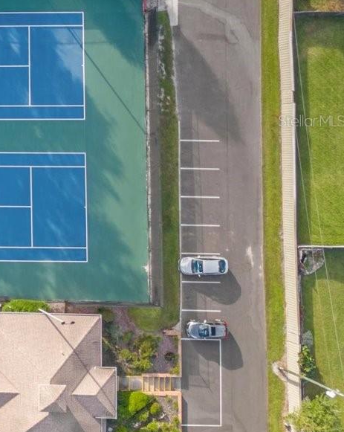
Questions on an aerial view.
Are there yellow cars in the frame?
No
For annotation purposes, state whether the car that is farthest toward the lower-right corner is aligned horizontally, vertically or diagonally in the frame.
horizontally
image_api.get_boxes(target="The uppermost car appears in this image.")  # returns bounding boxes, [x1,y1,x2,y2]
[181,254,231,278]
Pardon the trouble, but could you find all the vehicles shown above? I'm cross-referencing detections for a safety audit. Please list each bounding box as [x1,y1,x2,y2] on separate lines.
[187,319,232,343]
[181,254,231,278]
